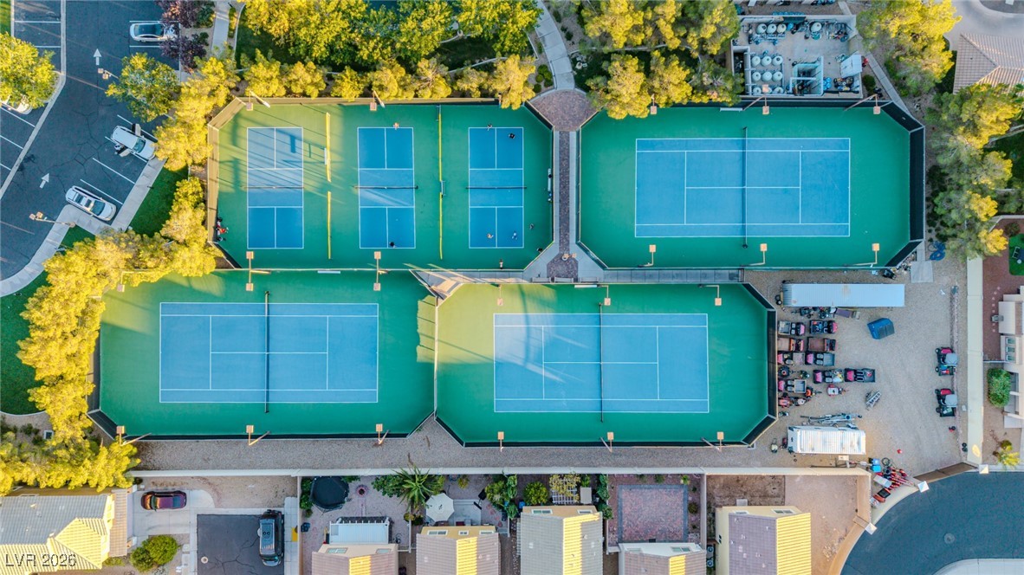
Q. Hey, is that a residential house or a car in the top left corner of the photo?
car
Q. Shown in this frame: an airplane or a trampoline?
trampoline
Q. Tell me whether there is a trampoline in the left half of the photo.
Yes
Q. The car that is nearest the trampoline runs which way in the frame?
vertically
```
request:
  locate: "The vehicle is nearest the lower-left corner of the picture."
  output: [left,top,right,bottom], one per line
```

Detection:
[143,489,188,511]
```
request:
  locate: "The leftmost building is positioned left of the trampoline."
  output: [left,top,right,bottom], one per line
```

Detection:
[0,488,134,572]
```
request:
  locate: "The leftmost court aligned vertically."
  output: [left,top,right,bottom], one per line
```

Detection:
[247,128,304,249]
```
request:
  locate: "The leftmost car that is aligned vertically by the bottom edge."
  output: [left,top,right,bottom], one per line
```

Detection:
[261,507,284,561]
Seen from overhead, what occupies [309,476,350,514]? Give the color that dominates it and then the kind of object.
black trampoline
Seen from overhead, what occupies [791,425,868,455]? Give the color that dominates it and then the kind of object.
white trailer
